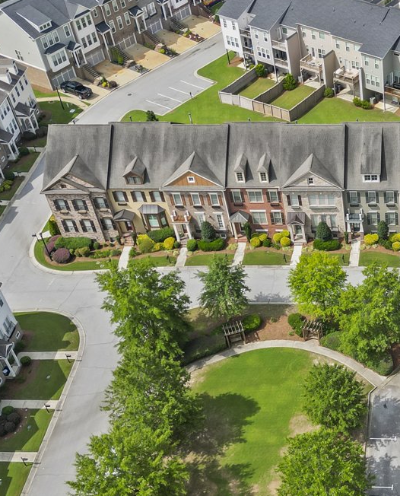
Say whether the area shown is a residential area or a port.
residential area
